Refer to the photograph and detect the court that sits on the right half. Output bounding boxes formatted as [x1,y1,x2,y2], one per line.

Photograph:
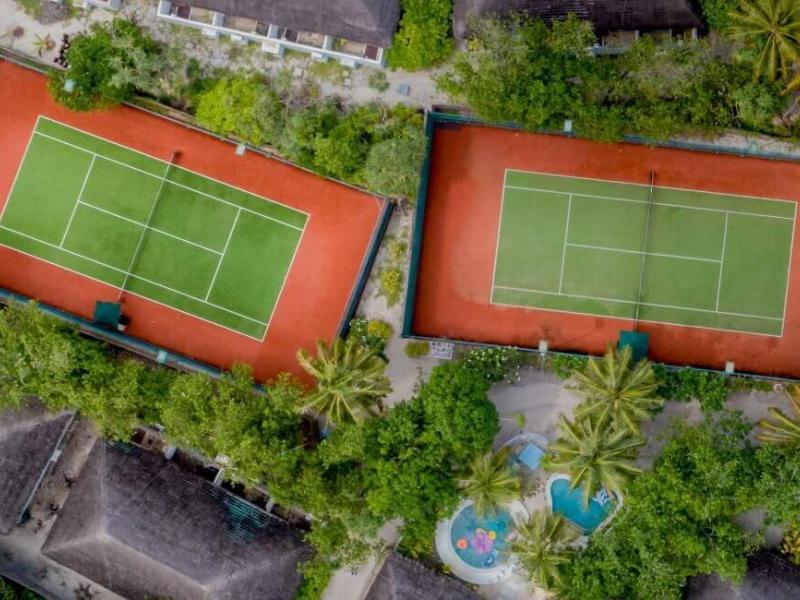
[412,119,800,380]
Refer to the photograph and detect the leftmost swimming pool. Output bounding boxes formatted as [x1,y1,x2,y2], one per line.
[434,487,540,584]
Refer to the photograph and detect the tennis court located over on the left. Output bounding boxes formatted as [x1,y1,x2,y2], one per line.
[0,55,388,402]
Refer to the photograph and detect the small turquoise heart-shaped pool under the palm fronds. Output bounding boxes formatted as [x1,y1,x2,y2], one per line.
[544,473,617,534]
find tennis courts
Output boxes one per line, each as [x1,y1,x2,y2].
[412,119,800,380]
[0,55,388,402]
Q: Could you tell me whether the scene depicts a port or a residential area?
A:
residential area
